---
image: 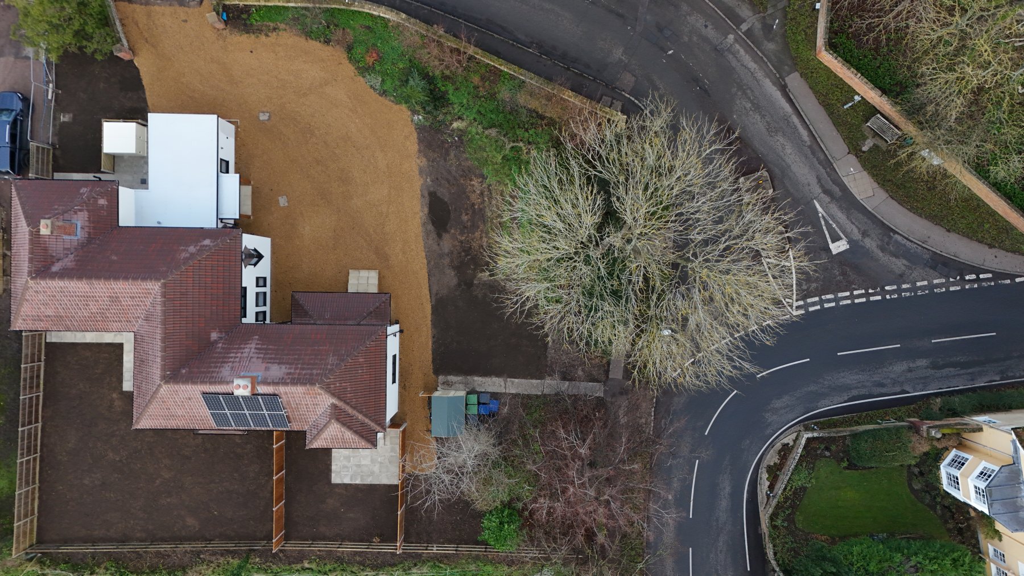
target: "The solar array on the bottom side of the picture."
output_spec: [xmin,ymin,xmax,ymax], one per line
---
[201,394,289,428]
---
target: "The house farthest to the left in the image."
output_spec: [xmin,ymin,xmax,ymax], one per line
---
[8,114,401,450]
